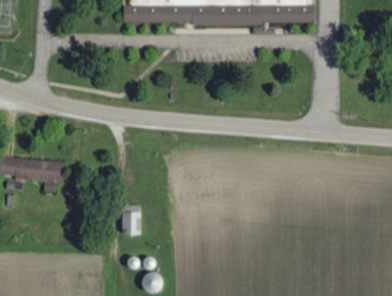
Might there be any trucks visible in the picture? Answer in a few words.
No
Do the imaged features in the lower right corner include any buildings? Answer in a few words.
No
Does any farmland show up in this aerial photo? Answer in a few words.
Yes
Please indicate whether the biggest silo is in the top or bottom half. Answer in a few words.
bottom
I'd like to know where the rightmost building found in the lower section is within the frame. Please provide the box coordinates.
[122,201,142,238]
